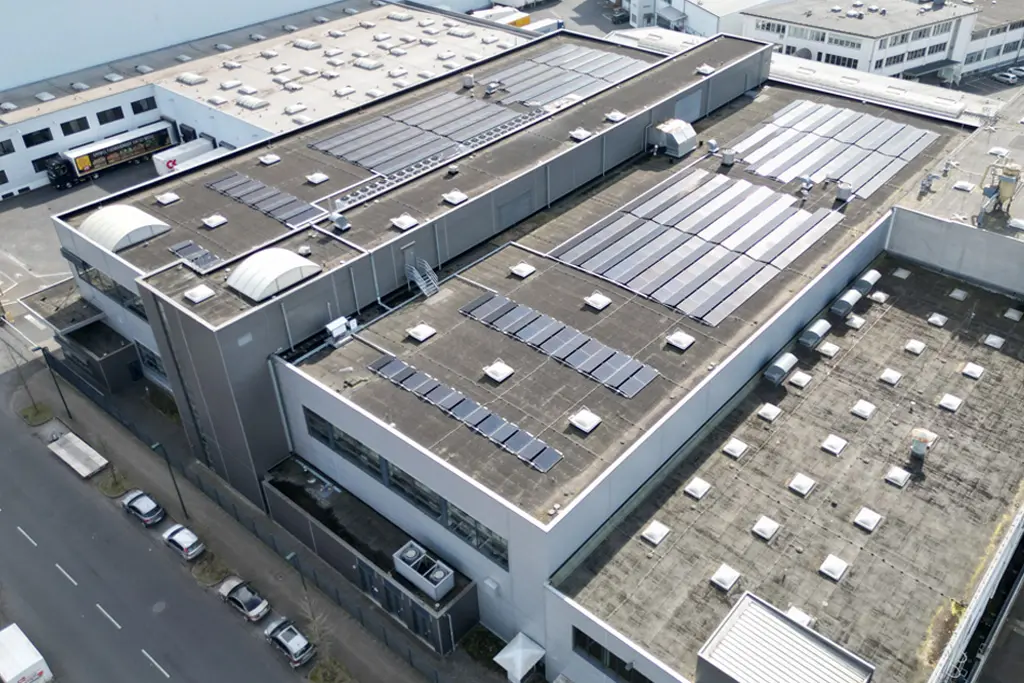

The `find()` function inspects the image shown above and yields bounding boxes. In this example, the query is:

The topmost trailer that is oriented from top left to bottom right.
[50,433,107,477]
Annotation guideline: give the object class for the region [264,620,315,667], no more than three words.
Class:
car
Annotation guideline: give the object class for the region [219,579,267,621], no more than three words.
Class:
car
